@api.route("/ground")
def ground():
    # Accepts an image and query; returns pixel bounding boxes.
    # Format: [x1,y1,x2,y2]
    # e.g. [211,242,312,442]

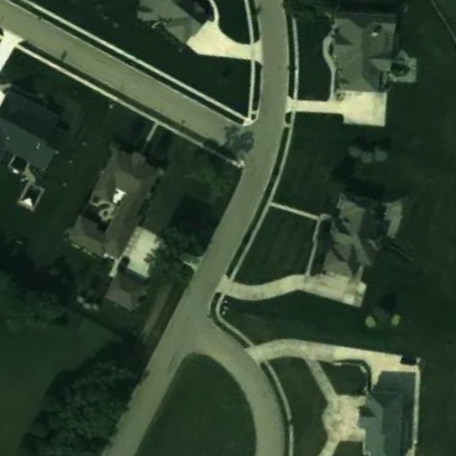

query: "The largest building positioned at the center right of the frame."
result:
[320,190,390,280]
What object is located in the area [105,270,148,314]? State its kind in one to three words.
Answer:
building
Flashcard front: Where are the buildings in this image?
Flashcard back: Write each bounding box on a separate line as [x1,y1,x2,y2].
[105,270,148,314]
[333,13,399,99]
[133,0,211,46]
[65,145,159,261]
[0,87,60,170]
[320,190,390,280]
[358,371,415,456]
